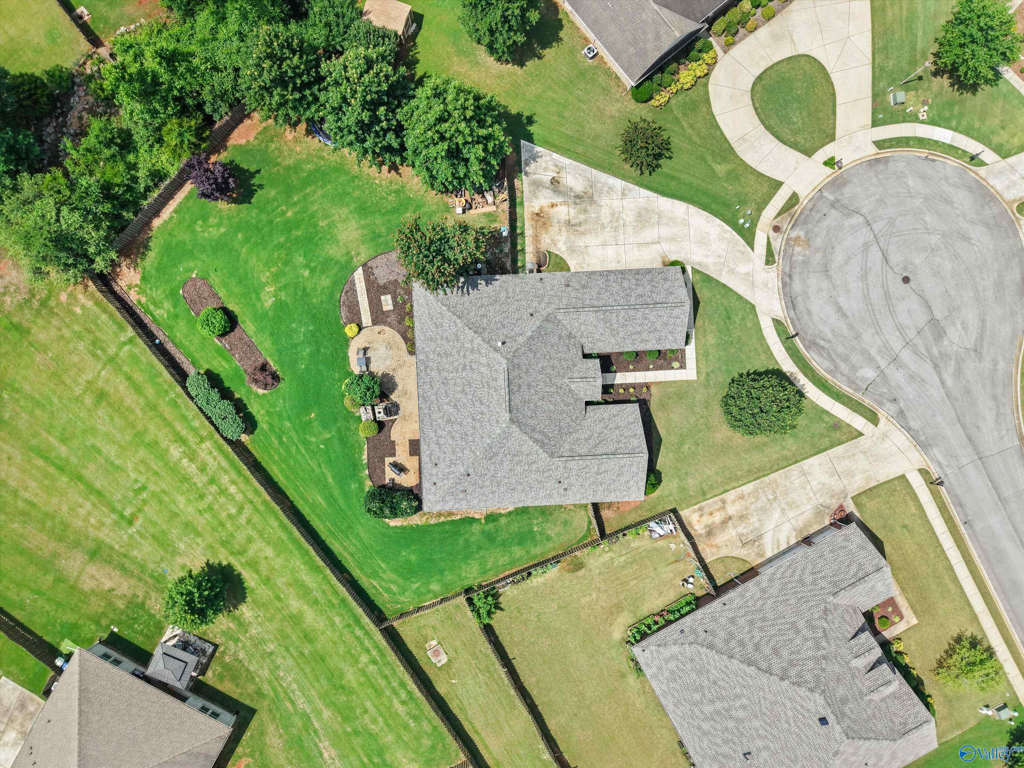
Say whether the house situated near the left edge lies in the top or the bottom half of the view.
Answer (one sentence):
Seen from above, the house situated near the left edge lies in the bottom half of the view.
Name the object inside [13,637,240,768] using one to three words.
house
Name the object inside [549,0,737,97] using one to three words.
house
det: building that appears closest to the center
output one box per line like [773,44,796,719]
[412,266,690,513]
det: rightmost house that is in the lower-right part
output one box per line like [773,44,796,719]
[630,521,938,768]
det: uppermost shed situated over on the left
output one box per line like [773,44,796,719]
[362,0,414,47]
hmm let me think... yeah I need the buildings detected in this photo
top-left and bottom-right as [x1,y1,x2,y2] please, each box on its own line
[412,266,690,513]
[13,637,240,768]
[362,0,414,47]
[630,521,938,768]
[549,0,737,97]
